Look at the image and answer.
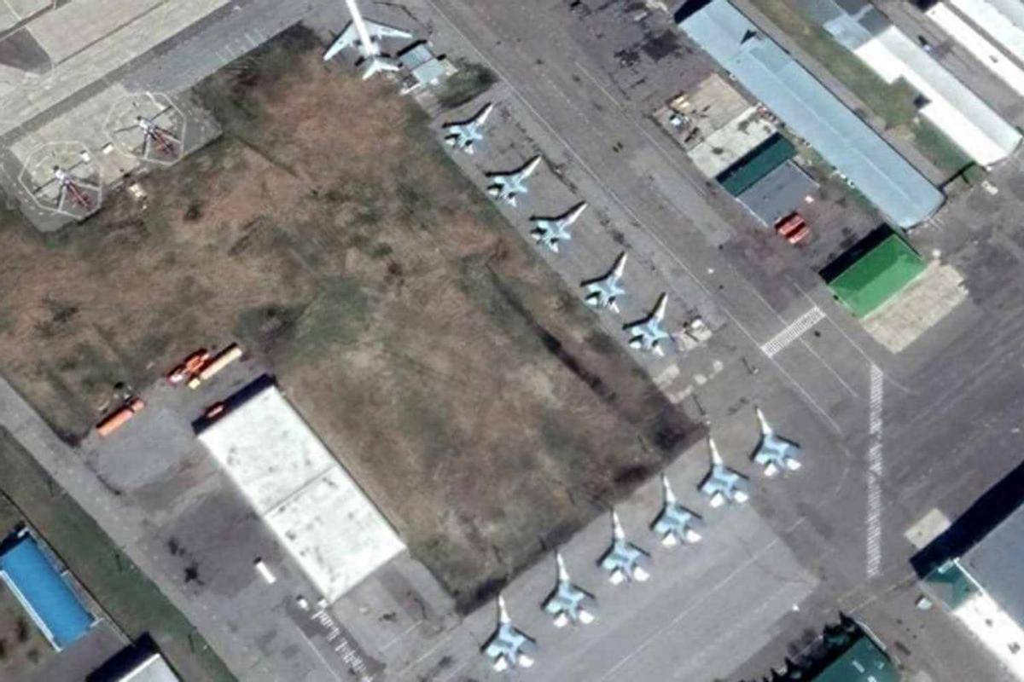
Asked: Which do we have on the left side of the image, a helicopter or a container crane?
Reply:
helicopter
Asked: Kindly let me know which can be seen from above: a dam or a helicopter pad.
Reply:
helicopter pad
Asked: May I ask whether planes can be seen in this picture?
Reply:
Yes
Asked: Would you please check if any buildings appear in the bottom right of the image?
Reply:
Yes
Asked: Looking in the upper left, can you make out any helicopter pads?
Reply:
Yes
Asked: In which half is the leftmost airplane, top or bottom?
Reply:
top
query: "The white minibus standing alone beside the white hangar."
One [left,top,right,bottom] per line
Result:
[255,560,276,584]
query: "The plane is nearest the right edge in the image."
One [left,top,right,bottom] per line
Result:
[755,405,800,476]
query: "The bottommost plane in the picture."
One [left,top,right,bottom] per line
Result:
[484,592,536,671]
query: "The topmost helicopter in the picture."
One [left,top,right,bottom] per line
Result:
[122,102,179,159]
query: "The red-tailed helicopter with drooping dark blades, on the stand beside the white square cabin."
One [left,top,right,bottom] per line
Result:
[37,153,94,211]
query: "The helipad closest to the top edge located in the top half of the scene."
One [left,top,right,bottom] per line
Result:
[104,93,187,164]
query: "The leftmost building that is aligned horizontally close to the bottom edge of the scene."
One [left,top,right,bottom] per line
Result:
[114,652,180,682]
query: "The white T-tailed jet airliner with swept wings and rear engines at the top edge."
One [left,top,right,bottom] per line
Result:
[325,0,414,79]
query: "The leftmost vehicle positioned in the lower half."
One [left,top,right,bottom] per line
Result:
[97,400,146,435]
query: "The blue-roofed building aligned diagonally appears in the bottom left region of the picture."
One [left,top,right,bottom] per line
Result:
[0,528,104,654]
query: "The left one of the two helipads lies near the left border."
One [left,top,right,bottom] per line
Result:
[19,140,102,218]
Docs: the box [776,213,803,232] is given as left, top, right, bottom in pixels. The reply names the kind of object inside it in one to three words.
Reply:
vehicle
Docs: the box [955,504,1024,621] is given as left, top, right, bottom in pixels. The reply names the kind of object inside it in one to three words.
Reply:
hangar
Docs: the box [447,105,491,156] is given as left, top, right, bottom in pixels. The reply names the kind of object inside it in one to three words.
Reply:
airplane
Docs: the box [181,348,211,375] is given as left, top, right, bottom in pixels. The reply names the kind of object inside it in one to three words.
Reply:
truck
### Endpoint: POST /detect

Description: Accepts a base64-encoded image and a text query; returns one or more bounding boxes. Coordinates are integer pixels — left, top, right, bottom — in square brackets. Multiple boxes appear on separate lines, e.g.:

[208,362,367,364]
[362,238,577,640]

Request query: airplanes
[755,405,800,476]
[535,205,585,254]
[653,472,701,546]
[545,554,595,628]
[484,592,536,671]
[701,434,748,507]
[587,252,625,313]
[602,509,649,584]
[447,105,491,156]
[492,158,538,208]
[630,294,669,356]
[325,0,414,79]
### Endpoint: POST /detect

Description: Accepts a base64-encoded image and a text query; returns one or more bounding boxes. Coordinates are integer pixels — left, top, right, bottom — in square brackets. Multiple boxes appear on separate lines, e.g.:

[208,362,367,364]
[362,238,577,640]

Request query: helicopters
[37,153,94,211]
[122,102,179,159]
